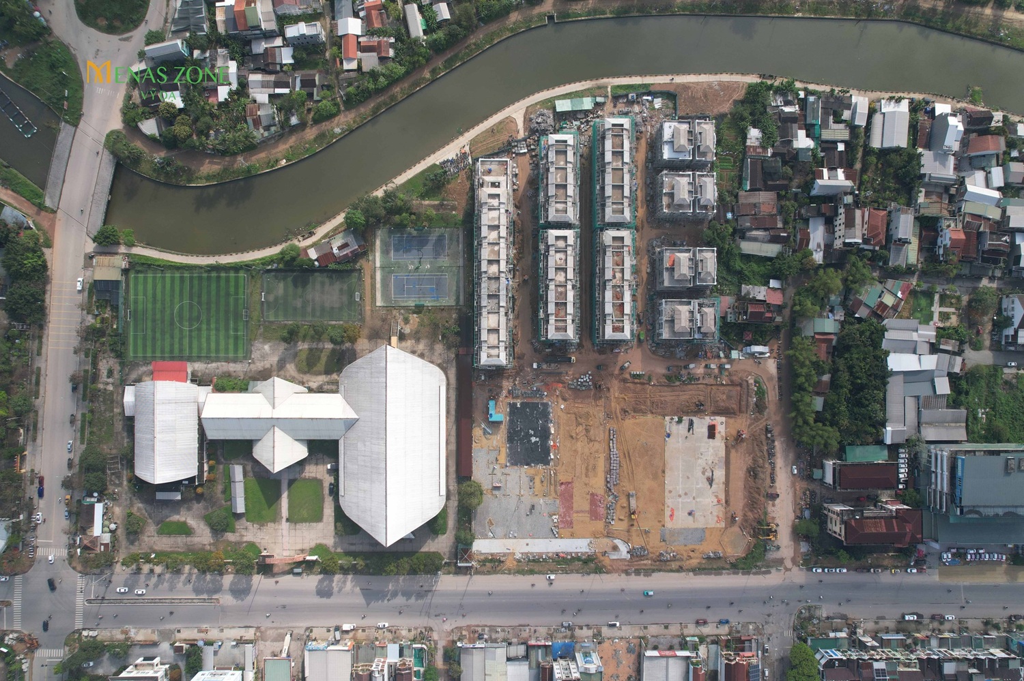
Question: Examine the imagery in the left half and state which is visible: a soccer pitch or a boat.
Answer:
soccer pitch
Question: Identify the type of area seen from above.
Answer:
residential area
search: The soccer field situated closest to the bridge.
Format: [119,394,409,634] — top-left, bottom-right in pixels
[125,269,248,360]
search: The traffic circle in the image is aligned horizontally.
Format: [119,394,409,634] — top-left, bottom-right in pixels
[74,0,150,34]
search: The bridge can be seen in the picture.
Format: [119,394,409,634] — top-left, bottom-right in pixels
[43,120,119,237]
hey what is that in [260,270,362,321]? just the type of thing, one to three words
soccer field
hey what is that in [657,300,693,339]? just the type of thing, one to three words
house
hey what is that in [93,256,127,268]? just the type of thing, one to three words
house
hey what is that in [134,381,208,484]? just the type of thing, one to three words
building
